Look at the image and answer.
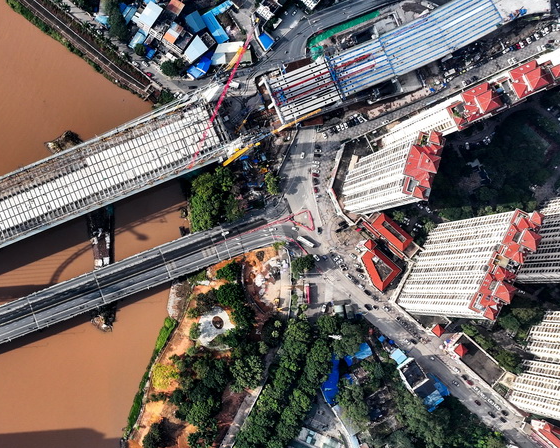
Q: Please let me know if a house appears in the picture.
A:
Yes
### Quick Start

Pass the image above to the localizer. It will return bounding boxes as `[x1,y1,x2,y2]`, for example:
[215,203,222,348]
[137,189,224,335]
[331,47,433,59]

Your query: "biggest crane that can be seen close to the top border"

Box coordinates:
[190,11,260,168]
